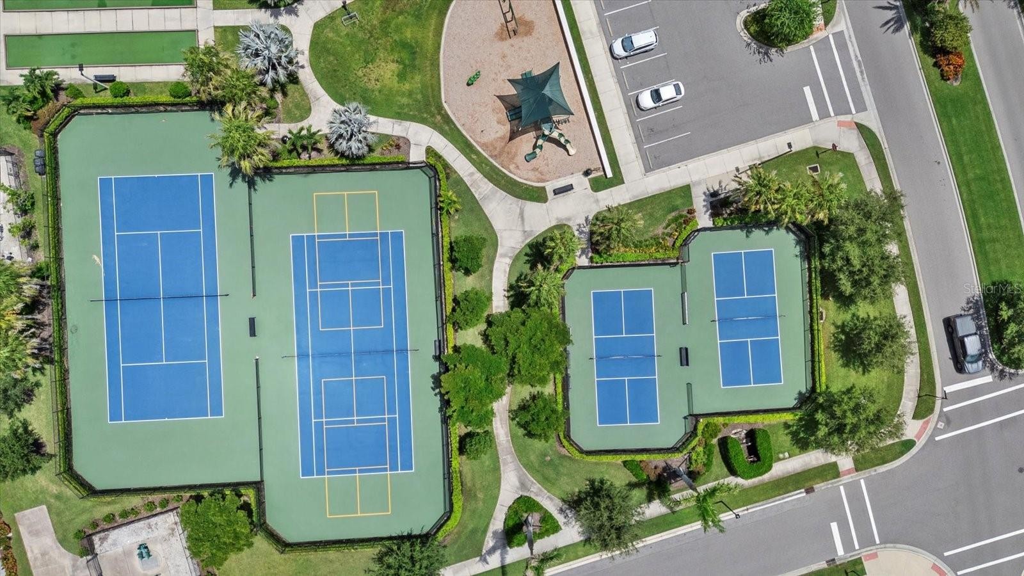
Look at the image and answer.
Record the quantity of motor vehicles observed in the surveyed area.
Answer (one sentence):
I count 3 motor vehicles.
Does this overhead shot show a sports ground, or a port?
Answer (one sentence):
The area seen from above is a sports ground.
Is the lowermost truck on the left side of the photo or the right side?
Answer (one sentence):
The lowermost truck sits on the right side.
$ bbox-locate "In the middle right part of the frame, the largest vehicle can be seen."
[947,316,985,376]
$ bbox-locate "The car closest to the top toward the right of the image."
[610,29,660,61]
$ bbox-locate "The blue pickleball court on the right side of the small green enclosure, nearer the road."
[681,225,813,414]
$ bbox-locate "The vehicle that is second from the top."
[635,80,687,112]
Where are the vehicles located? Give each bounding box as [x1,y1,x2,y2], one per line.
[610,29,660,61]
[947,316,985,376]
[635,80,687,112]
